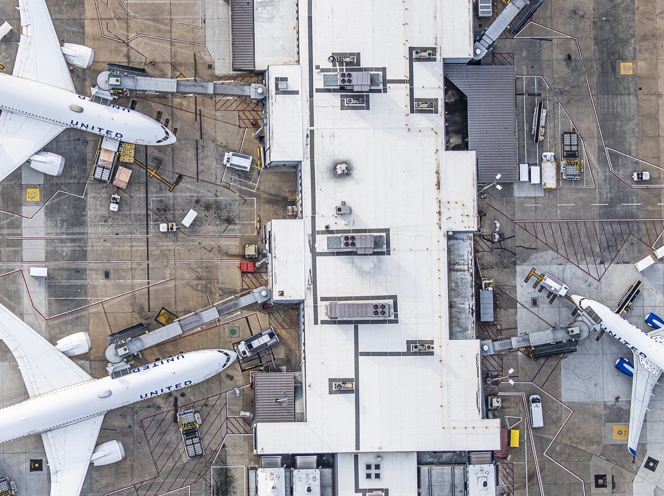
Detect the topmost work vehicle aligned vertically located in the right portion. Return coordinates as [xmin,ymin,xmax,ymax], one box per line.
[530,99,544,145]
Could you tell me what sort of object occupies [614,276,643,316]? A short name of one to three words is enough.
work vehicle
